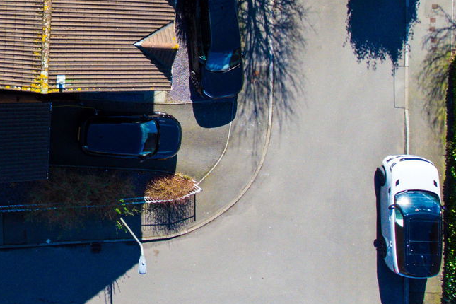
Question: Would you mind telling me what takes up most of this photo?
paved ground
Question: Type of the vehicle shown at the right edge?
automobile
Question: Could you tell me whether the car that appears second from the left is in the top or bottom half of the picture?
top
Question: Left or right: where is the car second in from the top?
left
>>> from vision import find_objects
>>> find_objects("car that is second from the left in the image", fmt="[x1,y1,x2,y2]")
[189,0,248,97]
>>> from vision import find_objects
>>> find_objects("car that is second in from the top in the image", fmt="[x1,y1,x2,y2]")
[77,111,182,168]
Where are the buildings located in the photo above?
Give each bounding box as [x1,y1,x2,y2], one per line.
[0,97,54,182]
[0,0,181,94]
